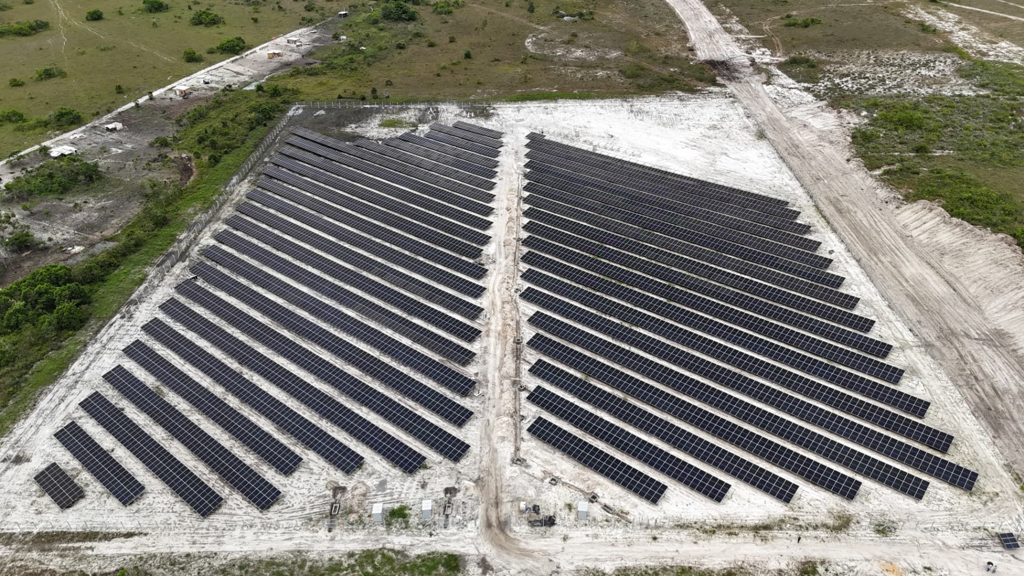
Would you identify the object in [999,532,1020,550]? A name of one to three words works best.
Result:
solar array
